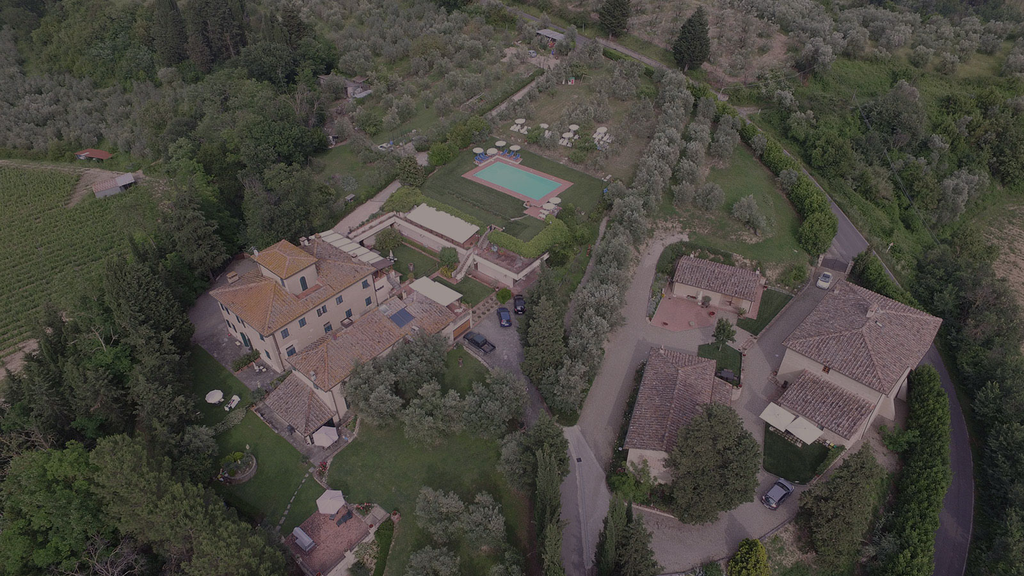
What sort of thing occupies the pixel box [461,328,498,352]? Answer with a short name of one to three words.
truck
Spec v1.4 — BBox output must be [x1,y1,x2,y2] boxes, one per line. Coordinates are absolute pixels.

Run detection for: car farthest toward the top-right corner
[817,266,835,287]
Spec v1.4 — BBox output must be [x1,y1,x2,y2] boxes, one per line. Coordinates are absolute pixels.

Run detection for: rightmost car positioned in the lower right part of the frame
[760,476,798,508]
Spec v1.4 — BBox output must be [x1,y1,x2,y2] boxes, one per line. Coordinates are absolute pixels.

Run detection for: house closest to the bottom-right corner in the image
[777,278,942,453]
